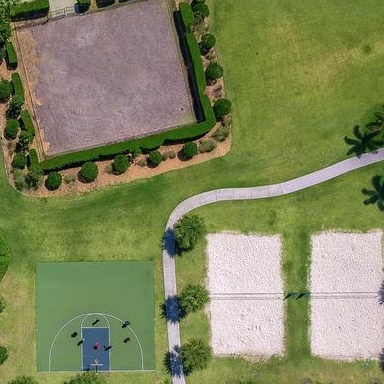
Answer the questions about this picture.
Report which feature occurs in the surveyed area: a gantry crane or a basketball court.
basketball court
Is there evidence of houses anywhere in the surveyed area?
No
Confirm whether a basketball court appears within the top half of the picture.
No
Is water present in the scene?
No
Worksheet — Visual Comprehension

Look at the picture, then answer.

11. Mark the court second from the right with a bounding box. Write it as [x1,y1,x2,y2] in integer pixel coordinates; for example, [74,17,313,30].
[205,230,288,361]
